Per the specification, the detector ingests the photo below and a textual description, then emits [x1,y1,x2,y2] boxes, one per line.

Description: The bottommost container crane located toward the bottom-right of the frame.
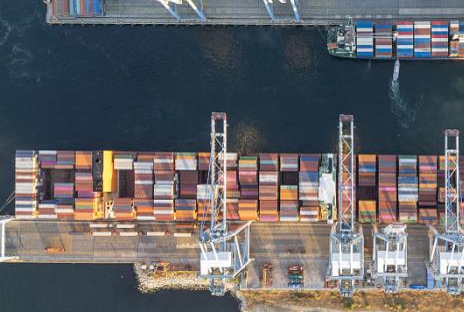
[367,224,415,298]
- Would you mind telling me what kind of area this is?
port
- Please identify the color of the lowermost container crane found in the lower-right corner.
white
